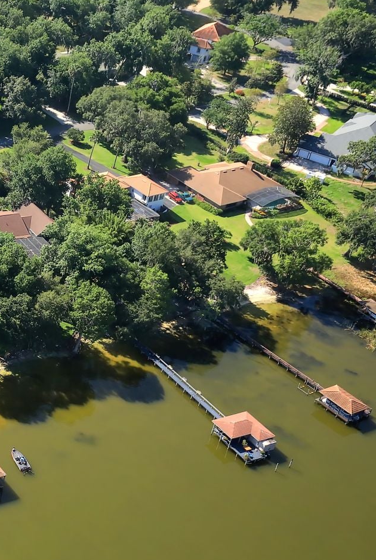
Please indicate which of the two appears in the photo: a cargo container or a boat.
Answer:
boat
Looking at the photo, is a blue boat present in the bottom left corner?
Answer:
No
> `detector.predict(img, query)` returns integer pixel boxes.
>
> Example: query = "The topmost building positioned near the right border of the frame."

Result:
[297,113,376,172]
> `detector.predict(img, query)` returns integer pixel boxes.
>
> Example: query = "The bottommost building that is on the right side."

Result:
[210,410,278,465]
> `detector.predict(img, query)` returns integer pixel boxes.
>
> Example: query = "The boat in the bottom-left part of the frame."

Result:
[10,439,35,472]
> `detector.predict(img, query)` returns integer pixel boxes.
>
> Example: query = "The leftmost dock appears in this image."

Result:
[138,342,229,419]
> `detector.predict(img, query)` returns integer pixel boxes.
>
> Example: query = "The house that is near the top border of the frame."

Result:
[190,23,238,64]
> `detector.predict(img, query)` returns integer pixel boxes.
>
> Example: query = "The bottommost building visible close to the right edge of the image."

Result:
[307,385,373,433]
